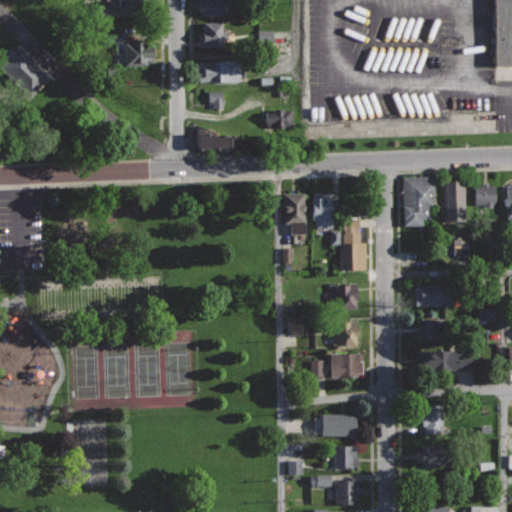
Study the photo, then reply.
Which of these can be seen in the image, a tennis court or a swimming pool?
tennis court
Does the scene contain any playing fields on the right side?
No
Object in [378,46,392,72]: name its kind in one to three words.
vehicle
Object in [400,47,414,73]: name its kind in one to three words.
vehicle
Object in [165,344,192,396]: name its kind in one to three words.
tennis court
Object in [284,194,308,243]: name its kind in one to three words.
house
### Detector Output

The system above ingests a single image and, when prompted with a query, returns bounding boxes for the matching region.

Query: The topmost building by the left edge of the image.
[1,58,46,90]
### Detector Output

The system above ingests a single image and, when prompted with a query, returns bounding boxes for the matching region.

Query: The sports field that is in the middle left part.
[39,276,160,320]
